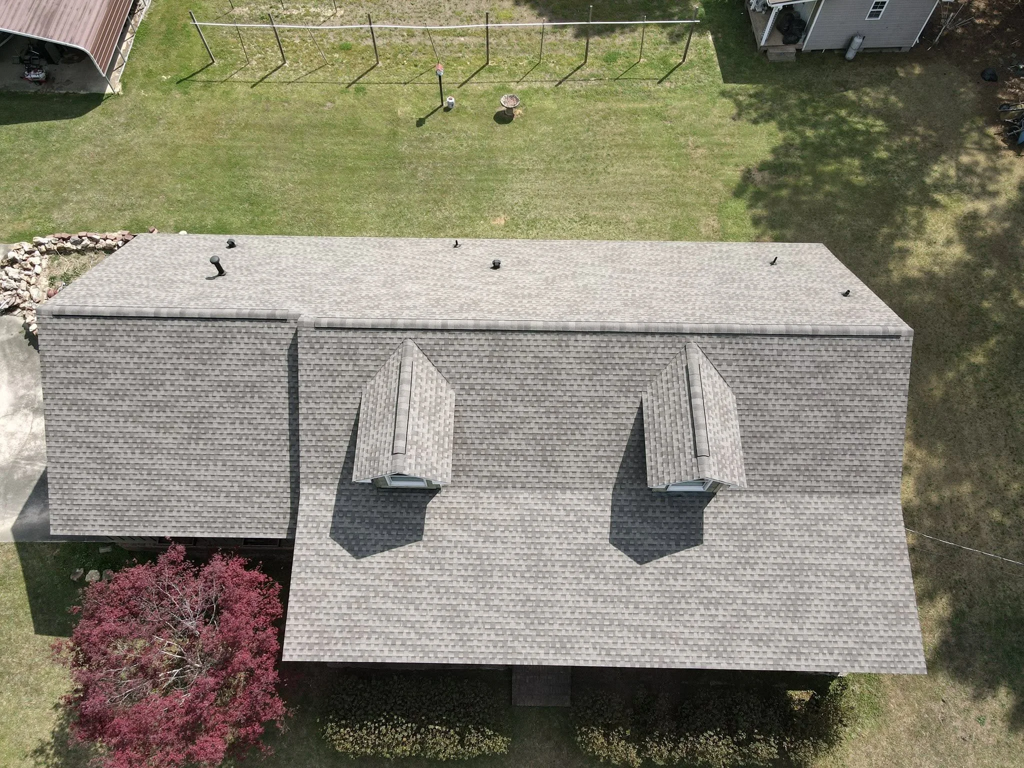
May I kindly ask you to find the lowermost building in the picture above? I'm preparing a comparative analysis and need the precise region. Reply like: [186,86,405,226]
[37,234,927,708]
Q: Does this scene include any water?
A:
No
